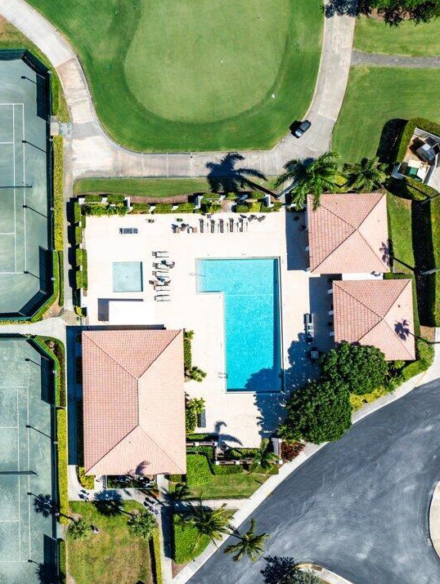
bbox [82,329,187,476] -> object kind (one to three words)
building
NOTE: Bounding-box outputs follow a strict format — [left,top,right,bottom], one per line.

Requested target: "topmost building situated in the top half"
[298,193,390,274]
